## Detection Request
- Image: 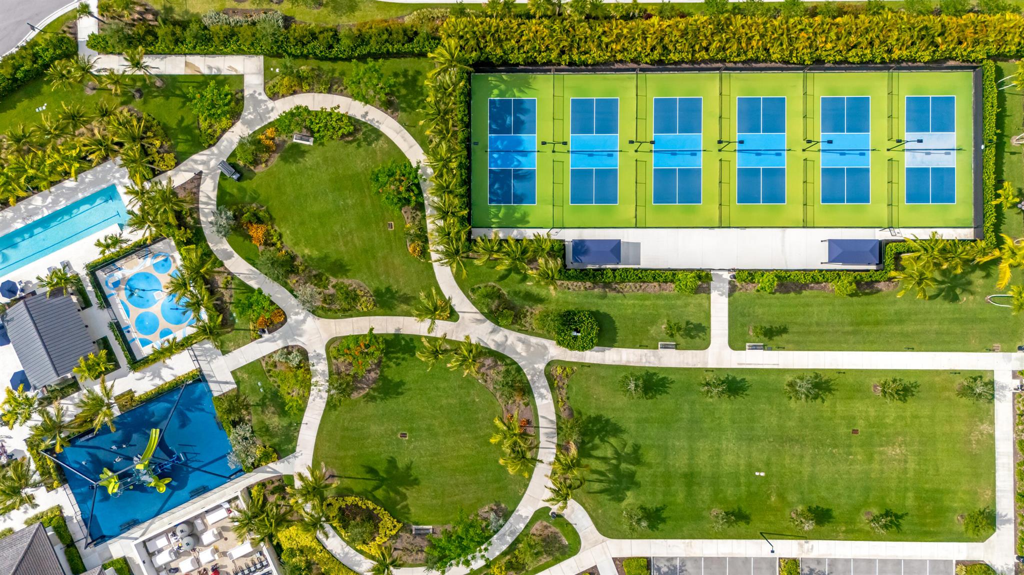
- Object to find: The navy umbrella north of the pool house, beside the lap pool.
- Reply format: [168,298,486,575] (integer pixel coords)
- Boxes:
[1,280,23,300]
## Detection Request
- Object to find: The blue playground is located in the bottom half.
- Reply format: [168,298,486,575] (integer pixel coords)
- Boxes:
[54,381,242,552]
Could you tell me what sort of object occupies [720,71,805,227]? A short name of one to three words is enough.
sports court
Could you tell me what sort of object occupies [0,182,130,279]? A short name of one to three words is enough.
swimming pool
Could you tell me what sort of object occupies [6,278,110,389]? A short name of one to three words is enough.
building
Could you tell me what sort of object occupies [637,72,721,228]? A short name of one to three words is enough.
sports court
